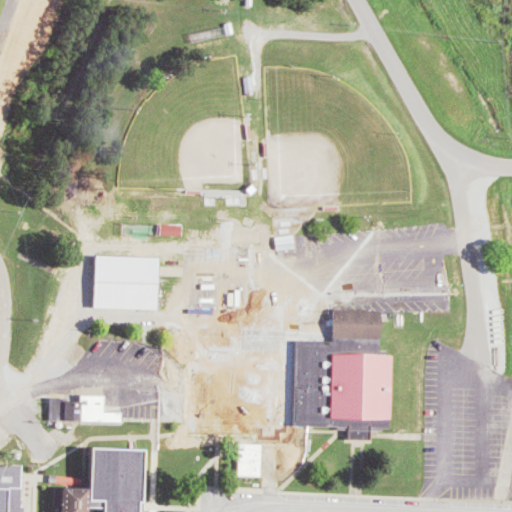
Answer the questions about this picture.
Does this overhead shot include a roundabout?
No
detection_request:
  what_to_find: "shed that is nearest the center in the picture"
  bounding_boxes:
[274,236,296,251]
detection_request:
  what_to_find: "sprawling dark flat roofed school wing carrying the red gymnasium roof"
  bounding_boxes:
[294,310,393,438]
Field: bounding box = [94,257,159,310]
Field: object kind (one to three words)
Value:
barn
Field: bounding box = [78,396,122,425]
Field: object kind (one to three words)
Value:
building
